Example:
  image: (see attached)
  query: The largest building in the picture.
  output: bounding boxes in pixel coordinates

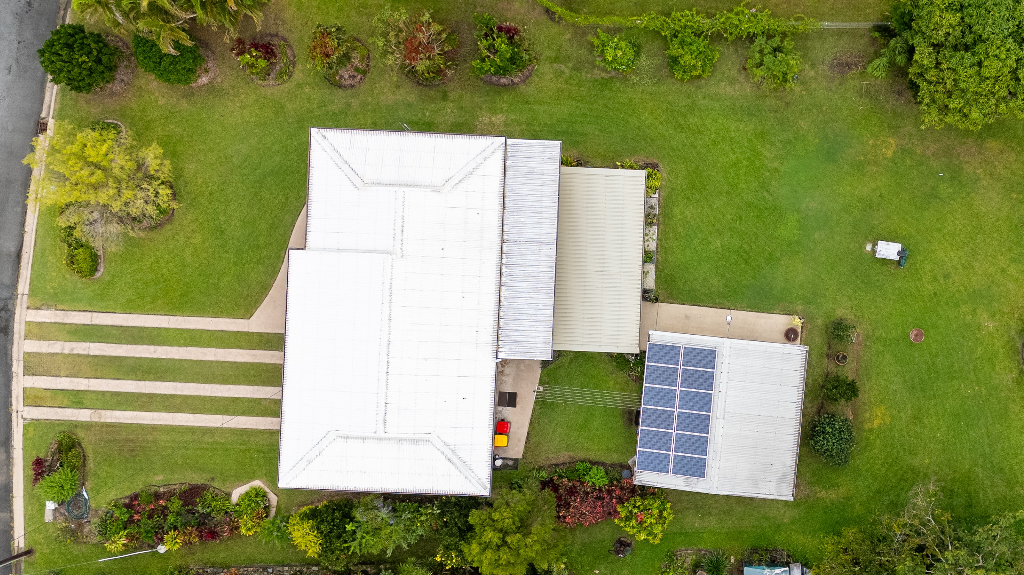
[276,128,509,498]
